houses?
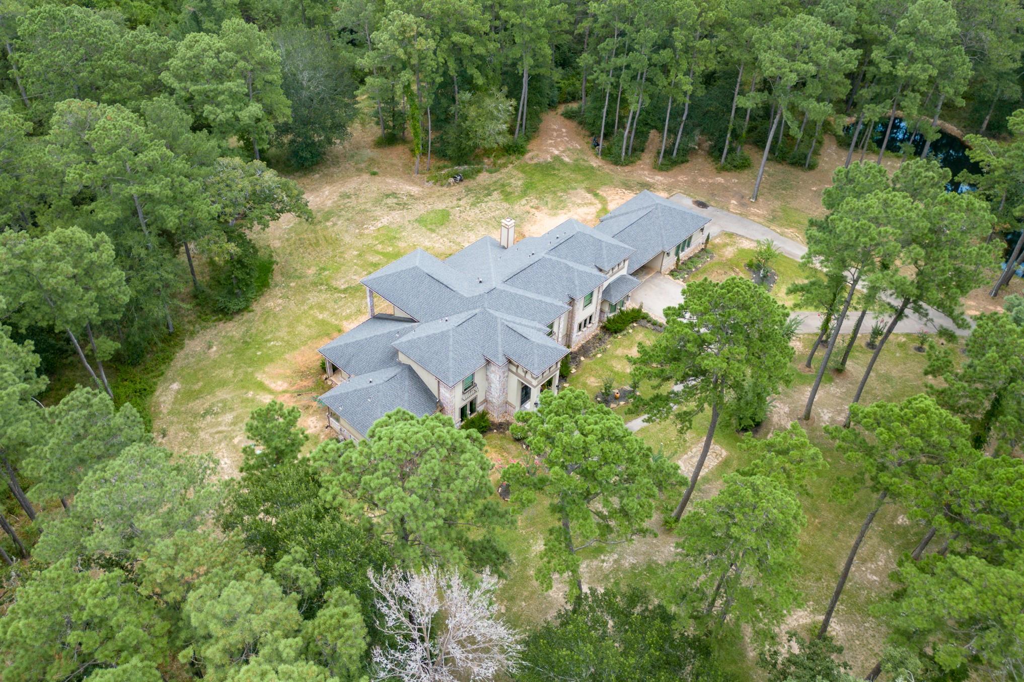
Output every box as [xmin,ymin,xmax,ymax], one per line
[317,189,711,461]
